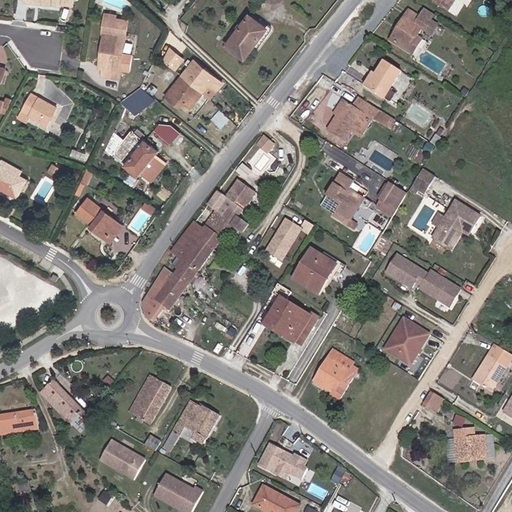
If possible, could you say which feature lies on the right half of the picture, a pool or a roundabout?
pool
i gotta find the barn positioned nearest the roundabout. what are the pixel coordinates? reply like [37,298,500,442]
[142,222,219,320]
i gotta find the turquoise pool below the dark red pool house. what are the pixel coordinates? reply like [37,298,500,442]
[128,209,151,236]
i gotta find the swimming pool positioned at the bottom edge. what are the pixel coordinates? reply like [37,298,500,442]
[305,482,330,502]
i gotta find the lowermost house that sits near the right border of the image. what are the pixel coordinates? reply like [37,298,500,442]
[448,414,494,464]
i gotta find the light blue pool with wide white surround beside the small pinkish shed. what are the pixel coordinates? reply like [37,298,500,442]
[30,176,54,205]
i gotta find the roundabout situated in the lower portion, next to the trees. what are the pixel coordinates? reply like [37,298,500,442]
[62,279,150,346]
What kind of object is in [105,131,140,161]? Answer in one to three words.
barn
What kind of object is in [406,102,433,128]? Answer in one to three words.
swimming pool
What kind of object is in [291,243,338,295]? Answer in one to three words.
house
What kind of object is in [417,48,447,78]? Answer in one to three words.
swimming pool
